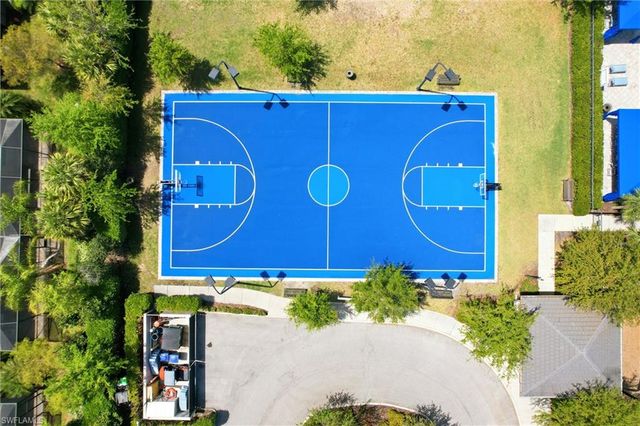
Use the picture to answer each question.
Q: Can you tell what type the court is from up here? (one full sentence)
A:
In the photo, the court shows up as a basketball court.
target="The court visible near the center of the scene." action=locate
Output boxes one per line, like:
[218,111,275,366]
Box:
[158,90,498,283]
